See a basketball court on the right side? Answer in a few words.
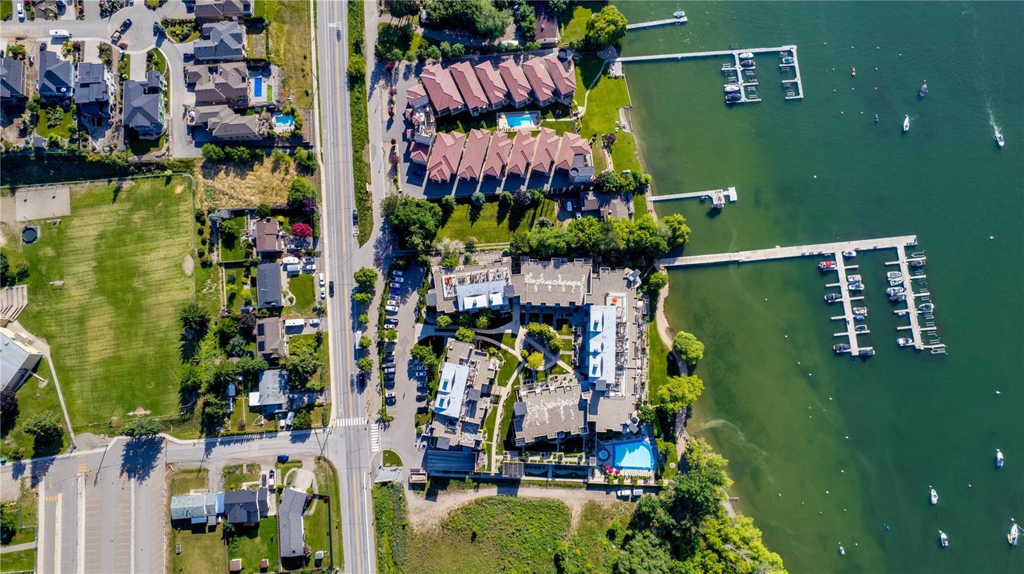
No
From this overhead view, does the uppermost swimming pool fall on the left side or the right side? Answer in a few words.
left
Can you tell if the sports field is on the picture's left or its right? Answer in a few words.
left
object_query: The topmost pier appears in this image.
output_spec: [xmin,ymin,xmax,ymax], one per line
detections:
[626,16,688,29]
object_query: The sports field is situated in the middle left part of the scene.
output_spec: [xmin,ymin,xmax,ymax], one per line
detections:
[0,176,196,427]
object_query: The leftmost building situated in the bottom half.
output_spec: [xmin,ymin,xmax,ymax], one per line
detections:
[0,323,44,393]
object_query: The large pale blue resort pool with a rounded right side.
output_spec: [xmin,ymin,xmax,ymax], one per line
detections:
[592,438,659,477]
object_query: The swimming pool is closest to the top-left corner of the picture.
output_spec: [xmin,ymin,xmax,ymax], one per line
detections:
[247,62,285,104]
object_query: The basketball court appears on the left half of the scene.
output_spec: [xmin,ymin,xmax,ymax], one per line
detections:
[15,187,70,221]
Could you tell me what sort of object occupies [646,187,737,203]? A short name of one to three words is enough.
pier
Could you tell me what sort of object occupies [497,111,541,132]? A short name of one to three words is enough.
swimming pool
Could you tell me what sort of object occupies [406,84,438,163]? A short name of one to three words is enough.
building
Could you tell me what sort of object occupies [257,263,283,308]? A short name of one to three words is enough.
house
